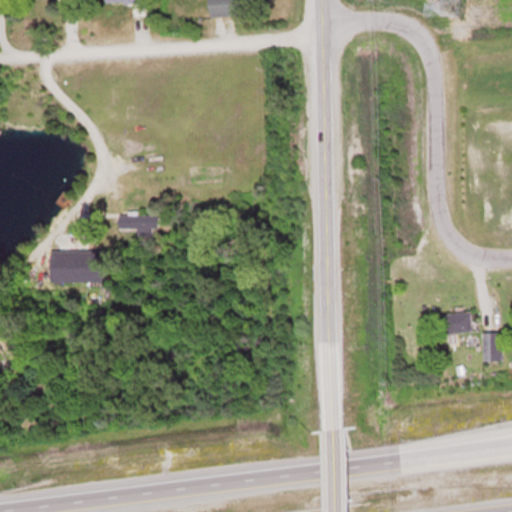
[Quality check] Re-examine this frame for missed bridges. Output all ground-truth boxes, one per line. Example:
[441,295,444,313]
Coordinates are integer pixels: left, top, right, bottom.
[311,426,356,512]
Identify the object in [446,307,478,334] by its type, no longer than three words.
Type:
house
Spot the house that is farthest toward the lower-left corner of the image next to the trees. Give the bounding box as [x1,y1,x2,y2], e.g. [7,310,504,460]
[50,250,104,284]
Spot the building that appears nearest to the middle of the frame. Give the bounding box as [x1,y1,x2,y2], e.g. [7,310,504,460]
[118,210,158,237]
